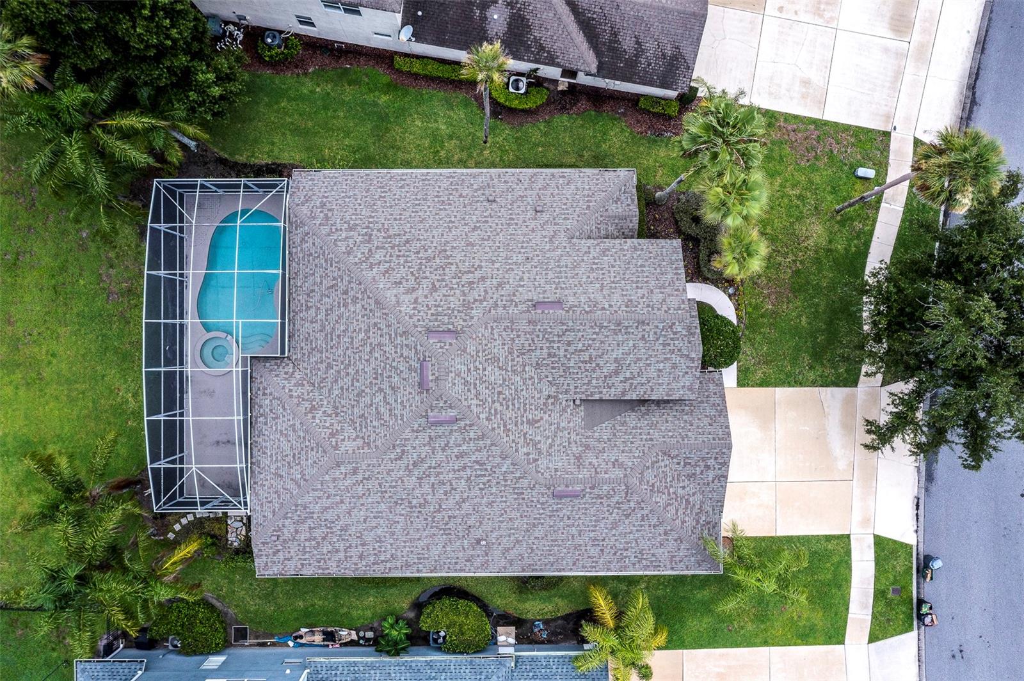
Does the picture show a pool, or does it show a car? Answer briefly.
pool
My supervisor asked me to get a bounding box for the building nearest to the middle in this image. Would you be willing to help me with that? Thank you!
[249,167,732,578]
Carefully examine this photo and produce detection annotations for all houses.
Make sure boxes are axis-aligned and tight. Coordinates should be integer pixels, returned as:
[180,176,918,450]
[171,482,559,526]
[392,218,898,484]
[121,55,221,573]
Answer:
[199,0,709,99]
[73,638,609,681]
[249,167,732,578]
